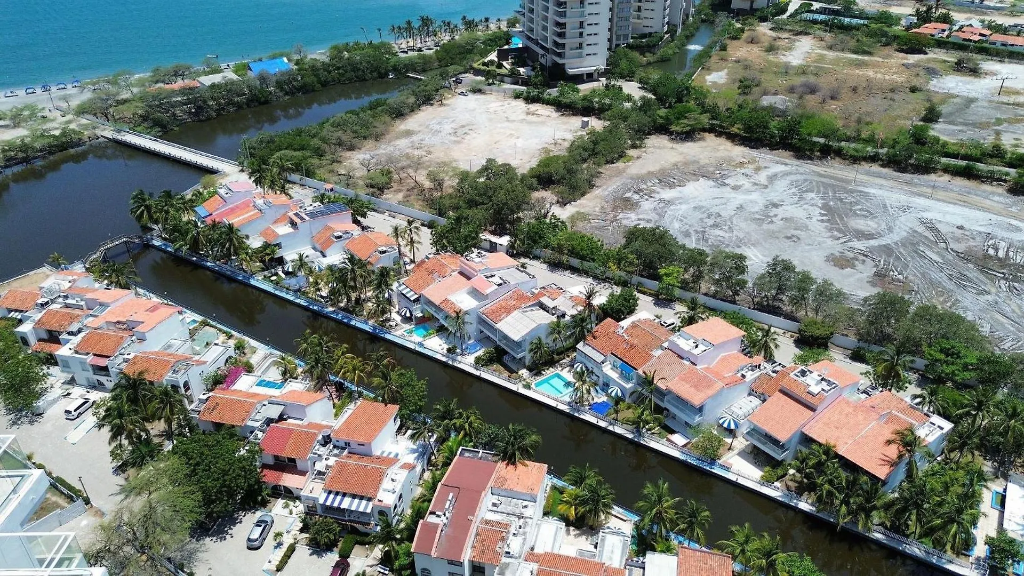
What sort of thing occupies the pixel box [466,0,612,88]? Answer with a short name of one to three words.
building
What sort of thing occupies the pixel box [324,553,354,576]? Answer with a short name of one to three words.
car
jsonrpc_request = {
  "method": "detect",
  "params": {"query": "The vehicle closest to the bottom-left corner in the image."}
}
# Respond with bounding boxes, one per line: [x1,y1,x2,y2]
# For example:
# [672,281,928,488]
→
[56,395,97,421]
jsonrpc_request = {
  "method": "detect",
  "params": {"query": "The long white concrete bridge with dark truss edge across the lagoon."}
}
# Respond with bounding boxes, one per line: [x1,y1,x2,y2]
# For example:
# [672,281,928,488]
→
[101,123,252,176]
